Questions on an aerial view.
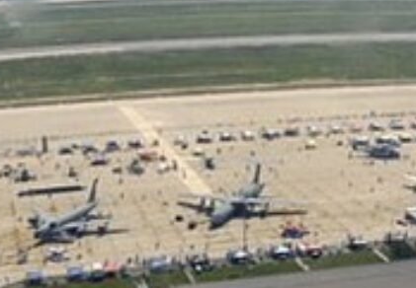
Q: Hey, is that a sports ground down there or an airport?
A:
airport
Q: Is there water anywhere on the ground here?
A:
No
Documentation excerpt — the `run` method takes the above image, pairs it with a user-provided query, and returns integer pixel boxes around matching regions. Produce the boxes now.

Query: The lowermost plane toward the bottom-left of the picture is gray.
[23,187,123,246]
